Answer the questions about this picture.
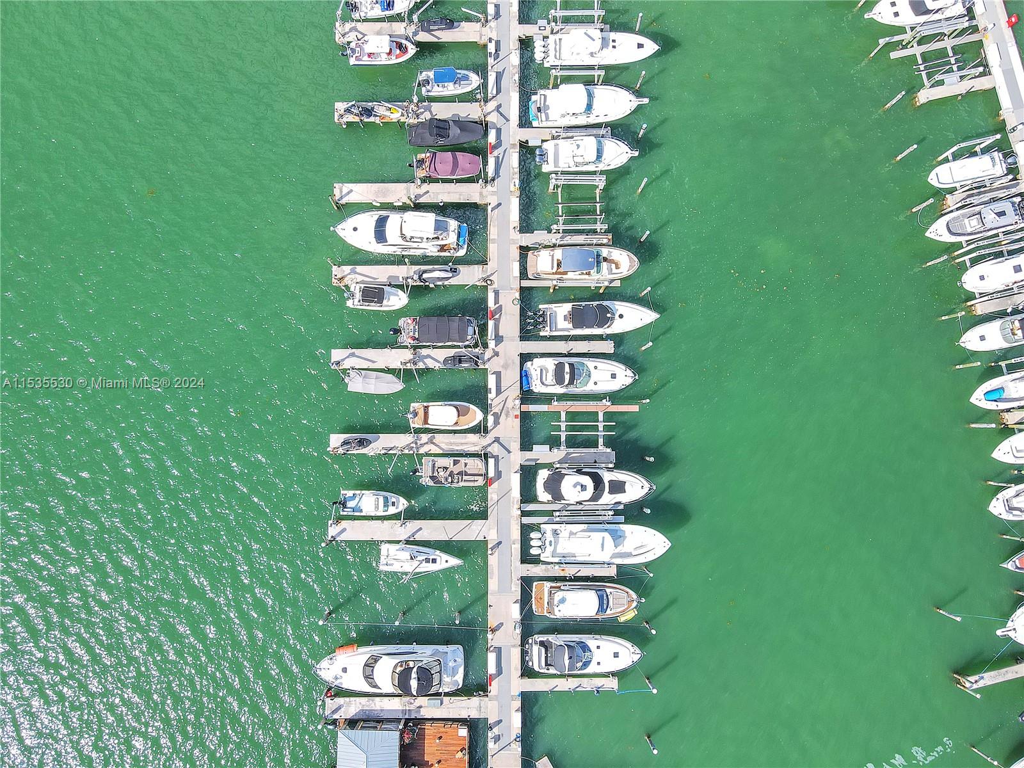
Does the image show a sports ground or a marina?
marina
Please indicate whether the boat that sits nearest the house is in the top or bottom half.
bottom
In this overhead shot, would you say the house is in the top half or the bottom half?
bottom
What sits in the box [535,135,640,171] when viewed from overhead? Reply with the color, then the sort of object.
white boat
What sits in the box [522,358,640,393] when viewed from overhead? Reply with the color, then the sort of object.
white boat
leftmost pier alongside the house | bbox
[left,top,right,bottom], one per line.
[326,692,488,719]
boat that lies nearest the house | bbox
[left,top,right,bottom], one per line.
[308,639,464,697]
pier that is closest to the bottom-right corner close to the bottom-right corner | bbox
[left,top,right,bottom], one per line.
[961,661,1024,690]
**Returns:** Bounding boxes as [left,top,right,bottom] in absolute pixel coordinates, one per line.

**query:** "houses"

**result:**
[337,719,405,768]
